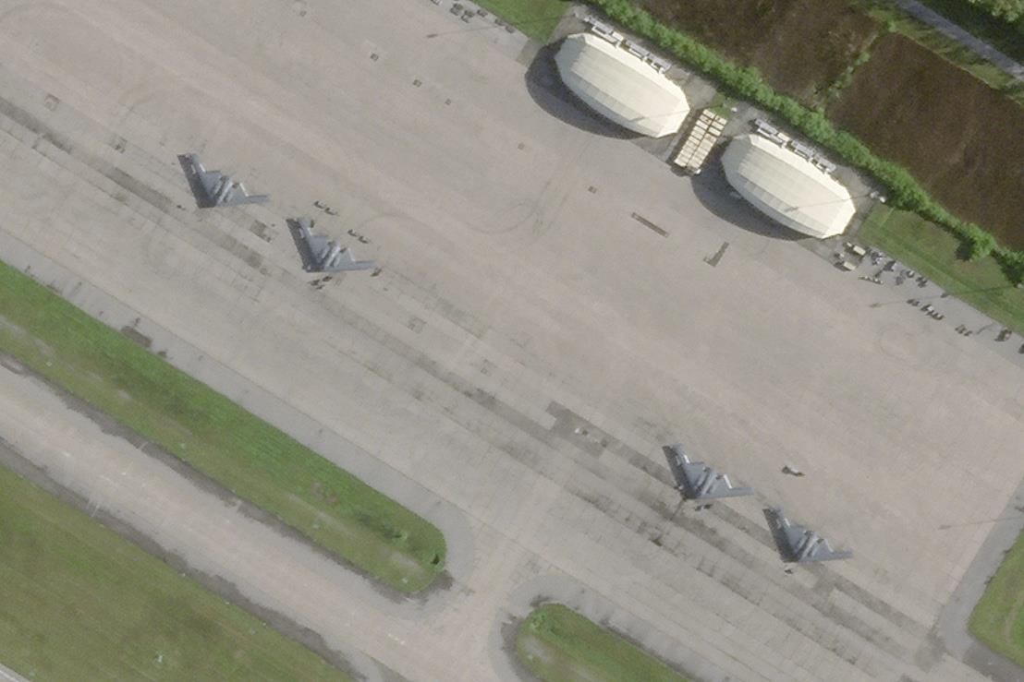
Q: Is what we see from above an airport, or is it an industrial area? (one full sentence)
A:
What you see here is an airport.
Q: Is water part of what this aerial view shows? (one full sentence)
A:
No, there is no water in the image.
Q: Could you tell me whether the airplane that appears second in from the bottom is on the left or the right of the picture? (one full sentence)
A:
The airplane that appears second in from the bottom is on the right side of the image.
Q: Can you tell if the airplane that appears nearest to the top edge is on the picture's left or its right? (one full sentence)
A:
It is on the left.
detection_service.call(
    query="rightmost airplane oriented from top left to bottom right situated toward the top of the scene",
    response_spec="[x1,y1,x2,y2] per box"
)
[301,216,378,270]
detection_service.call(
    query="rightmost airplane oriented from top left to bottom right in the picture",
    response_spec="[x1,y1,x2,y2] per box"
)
[776,507,850,561]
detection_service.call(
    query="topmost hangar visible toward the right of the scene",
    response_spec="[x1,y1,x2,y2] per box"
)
[554,33,691,138]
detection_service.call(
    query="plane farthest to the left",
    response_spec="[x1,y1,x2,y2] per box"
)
[193,150,270,205]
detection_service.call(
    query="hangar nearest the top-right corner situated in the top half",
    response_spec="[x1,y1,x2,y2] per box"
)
[723,135,858,240]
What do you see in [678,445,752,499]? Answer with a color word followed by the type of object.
gray airplane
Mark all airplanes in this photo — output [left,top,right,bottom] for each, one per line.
[776,507,850,561]
[301,216,378,270]
[678,445,752,499]
[193,150,270,205]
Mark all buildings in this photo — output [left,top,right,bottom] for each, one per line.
[723,135,858,240]
[554,33,691,138]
